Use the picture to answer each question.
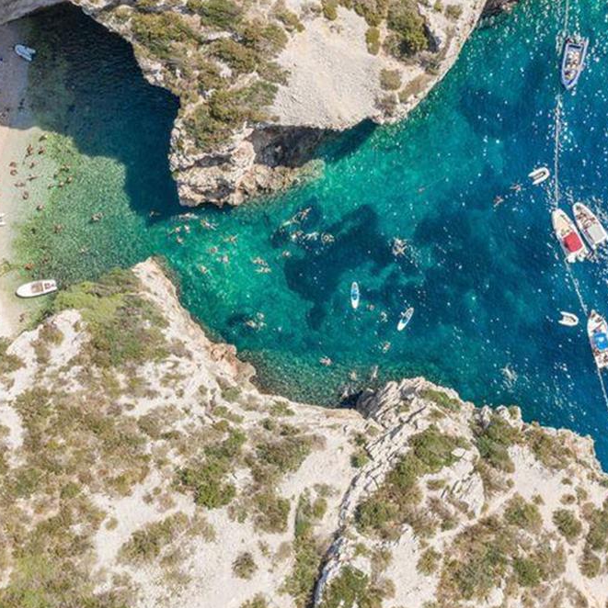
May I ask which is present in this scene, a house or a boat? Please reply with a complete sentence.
There is a boat in the scene.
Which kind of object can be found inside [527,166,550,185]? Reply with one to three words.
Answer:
boat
